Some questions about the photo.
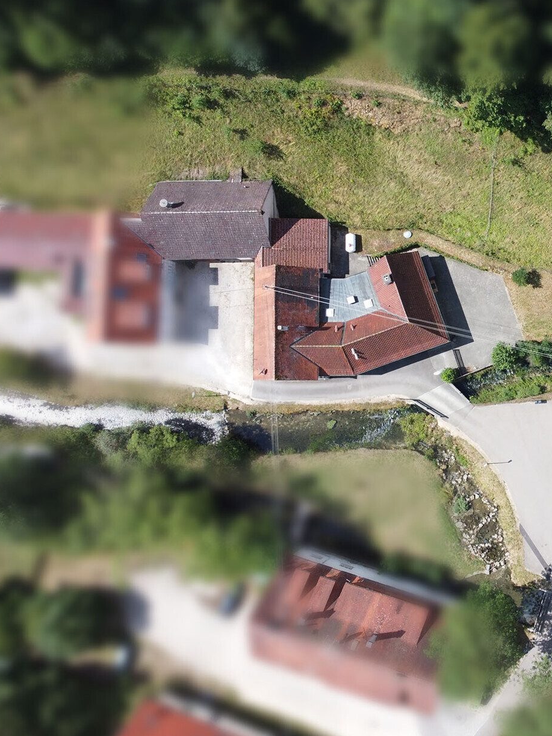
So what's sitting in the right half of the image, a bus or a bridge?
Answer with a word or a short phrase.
bridge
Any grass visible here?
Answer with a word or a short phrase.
Yes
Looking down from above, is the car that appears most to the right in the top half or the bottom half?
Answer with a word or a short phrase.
bottom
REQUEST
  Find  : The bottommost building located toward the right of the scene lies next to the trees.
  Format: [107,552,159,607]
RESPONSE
[251,550,459,718]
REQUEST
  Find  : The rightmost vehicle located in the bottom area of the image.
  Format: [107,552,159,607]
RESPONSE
[214,584,243,621]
